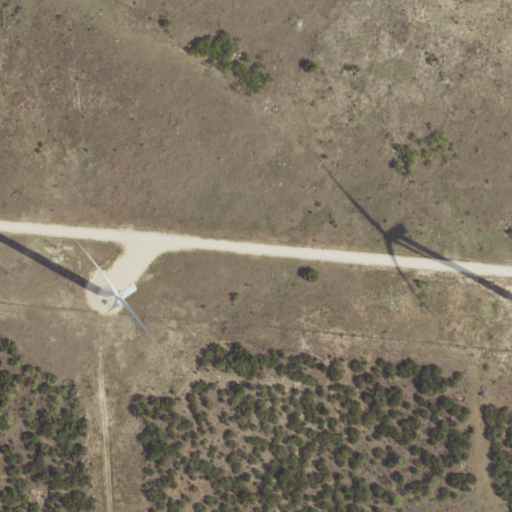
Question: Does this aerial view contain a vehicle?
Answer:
No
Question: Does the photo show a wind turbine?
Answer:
Yes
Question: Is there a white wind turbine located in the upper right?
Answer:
No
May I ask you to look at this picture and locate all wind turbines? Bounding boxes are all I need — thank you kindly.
[66,227,166,359]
